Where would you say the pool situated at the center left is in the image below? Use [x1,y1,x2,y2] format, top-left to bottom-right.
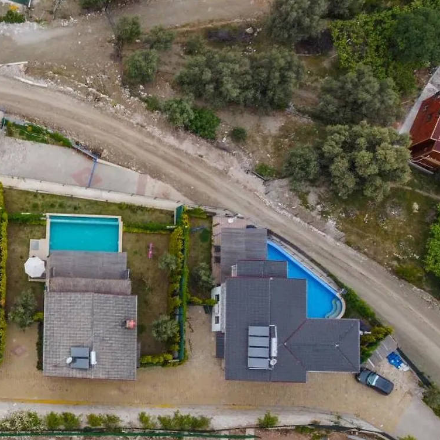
[46,212,122,255]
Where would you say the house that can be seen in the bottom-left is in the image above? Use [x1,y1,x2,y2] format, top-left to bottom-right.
[40,278,140,381]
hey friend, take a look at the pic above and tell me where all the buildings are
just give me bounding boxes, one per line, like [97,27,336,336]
[208,260,361,383]
[40,278,140,381]
[409,93,440,172]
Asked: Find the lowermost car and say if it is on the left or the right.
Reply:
right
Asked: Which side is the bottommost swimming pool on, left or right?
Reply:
right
